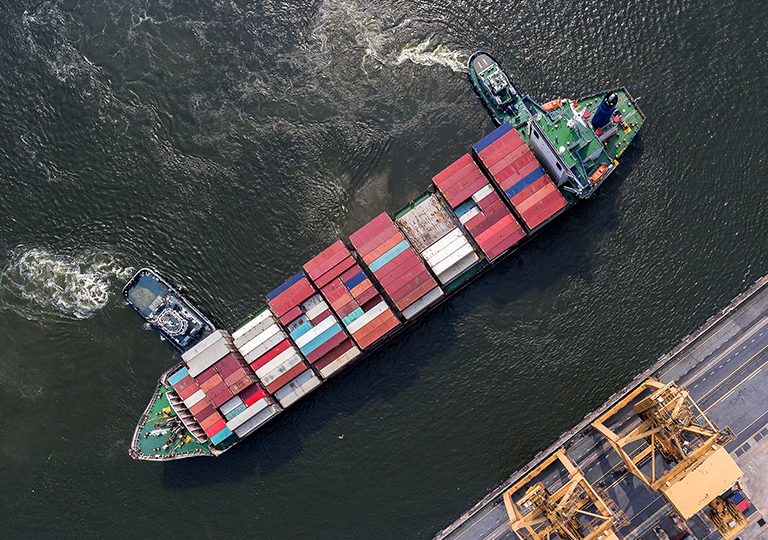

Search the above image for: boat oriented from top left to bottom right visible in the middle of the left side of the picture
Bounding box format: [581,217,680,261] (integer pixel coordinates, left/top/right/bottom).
[122,268,212,352]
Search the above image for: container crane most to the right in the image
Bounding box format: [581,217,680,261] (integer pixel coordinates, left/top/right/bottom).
[590,377,751,540]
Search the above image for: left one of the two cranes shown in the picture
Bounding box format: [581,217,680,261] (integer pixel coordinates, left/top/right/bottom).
[502,447,628,540]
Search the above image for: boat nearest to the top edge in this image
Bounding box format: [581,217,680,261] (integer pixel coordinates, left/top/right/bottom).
[466,48,528,128]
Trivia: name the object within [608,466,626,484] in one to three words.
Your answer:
work vehicle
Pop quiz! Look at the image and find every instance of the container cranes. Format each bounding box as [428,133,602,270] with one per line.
[502,447,628,540]
[590,377,751,540]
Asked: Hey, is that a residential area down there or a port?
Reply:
port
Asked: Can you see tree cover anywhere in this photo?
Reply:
No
